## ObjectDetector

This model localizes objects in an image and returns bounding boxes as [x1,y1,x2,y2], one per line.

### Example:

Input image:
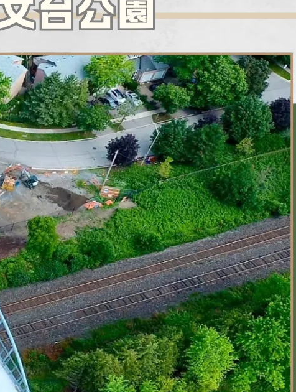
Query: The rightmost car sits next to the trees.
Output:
[143,78,163,92]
